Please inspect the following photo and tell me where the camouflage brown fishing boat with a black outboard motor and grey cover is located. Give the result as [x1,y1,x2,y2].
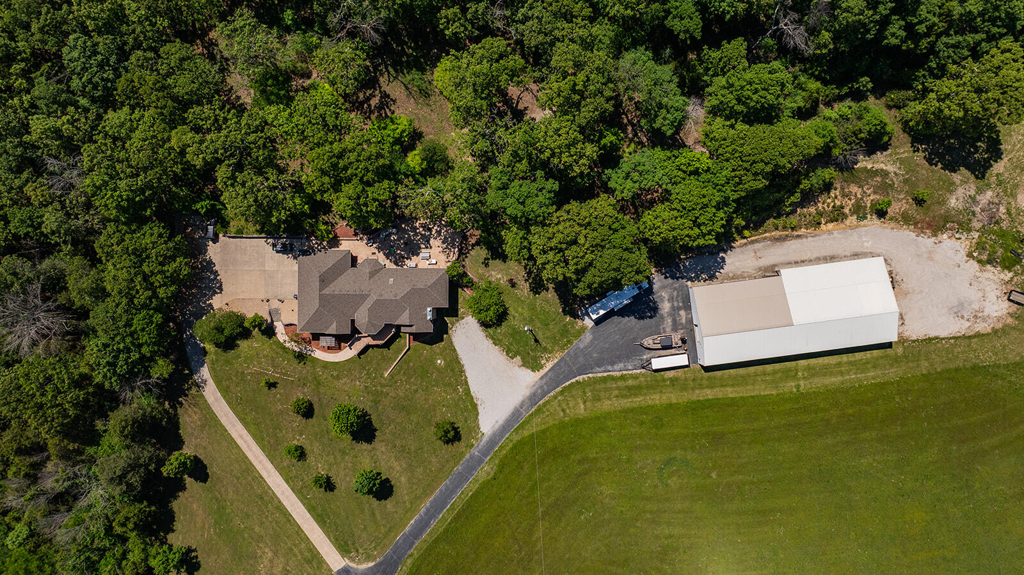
[640,333,687,349]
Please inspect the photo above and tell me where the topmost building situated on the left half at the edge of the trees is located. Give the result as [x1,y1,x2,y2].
[297,249,450,335]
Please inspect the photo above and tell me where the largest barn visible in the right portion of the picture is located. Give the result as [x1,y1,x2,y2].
[688,256,901,368]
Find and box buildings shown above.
[688,256,901,368]
[297,249,450,335]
